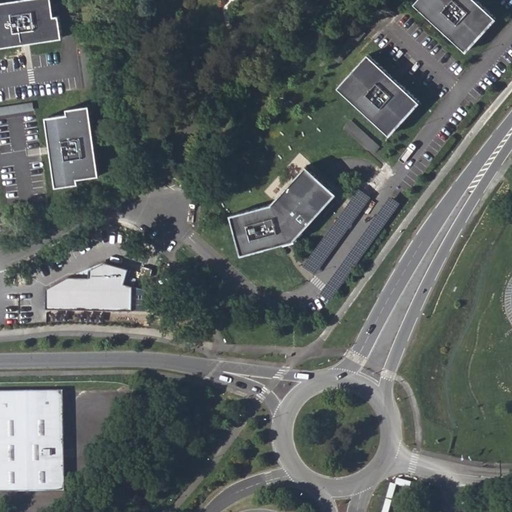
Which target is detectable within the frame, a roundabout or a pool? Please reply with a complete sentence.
Visible in the photo is a roundabout.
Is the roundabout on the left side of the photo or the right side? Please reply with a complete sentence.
The roundabout appears in the right half of the scene.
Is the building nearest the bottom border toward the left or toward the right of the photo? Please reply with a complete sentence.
You can find the building nearest the bottom border on the left side of the picture.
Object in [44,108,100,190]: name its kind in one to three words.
building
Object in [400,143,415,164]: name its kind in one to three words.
vehicle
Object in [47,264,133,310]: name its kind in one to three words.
building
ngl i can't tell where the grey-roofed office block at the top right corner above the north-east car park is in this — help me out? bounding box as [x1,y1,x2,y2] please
[412,0,494,54]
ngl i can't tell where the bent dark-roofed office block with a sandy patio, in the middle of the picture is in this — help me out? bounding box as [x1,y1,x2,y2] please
[228,169,335,258]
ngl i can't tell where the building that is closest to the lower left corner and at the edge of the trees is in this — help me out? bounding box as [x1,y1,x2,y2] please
[0,389,65,492]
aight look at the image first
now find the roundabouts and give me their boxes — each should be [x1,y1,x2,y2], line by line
[272,370,401,499]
